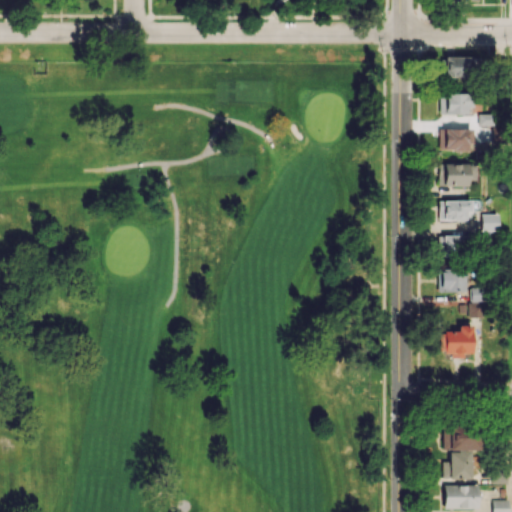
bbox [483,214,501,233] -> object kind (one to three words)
building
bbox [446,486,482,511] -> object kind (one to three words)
house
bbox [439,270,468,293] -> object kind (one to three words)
house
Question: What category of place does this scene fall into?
golf course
